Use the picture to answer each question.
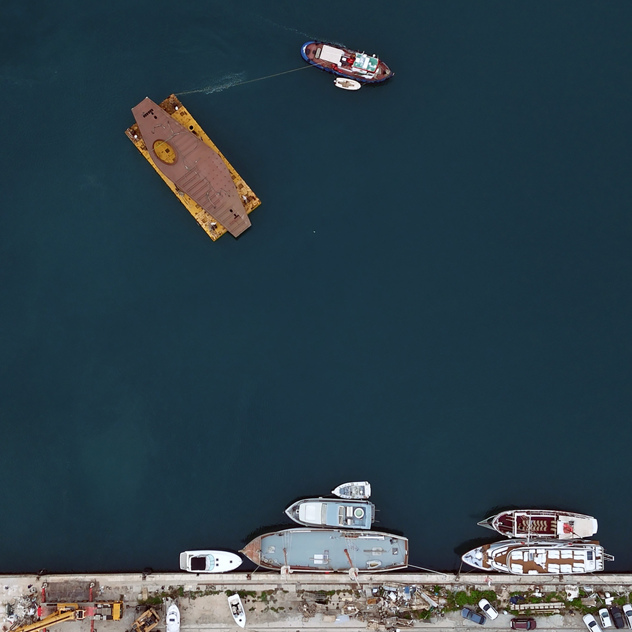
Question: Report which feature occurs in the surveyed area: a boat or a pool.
boat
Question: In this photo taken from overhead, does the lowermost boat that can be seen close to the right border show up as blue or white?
white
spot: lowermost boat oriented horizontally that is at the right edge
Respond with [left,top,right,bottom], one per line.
[462,537,614,575]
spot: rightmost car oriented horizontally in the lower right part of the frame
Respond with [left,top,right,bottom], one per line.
[511,618,537,631]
